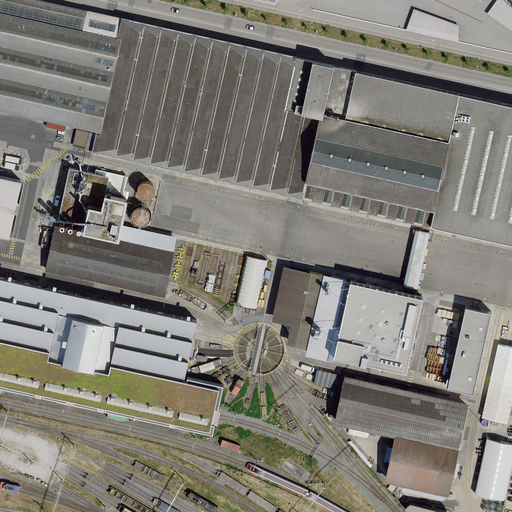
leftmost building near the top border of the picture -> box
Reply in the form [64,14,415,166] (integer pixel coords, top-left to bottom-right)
[0,0,124,136]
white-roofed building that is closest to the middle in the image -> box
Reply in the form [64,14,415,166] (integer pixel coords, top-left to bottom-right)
[238,255,268,309]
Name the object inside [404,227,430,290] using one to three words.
building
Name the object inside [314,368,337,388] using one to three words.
shed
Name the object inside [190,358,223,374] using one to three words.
vehicle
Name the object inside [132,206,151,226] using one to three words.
silo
